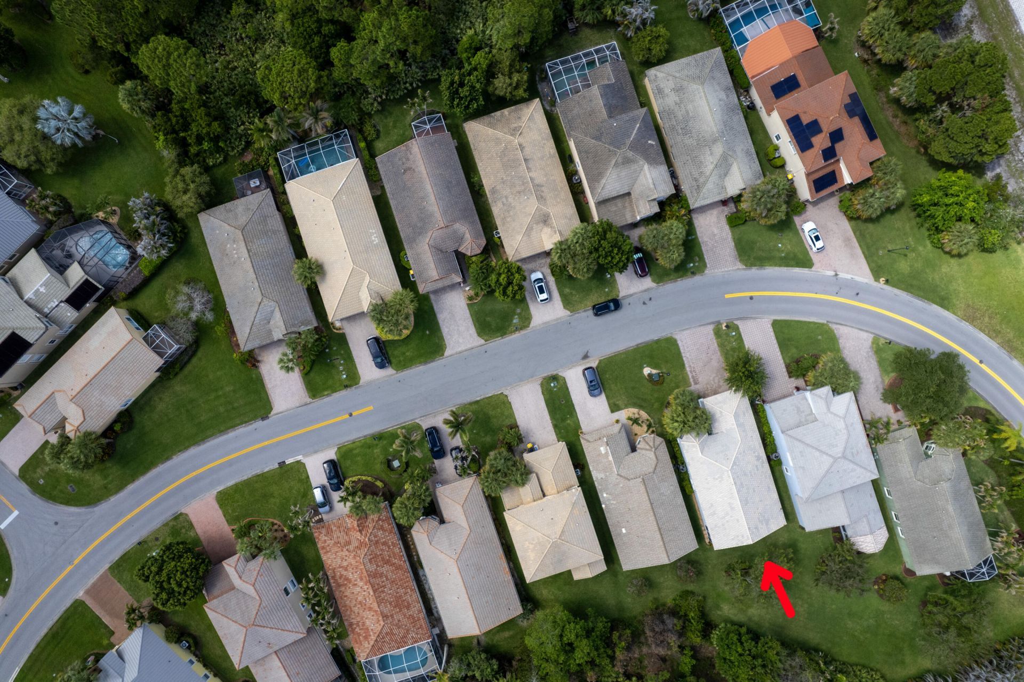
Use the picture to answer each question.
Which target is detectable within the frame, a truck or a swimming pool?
swimming pool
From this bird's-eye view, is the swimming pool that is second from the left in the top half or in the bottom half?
top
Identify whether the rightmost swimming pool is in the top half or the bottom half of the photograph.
top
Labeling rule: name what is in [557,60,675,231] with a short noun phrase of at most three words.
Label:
house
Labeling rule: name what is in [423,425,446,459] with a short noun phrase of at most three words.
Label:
car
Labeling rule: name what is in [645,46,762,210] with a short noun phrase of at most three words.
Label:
house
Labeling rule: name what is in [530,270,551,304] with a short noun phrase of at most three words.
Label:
car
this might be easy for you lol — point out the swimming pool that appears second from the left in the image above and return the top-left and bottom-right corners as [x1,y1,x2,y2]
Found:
[288,147,353,180]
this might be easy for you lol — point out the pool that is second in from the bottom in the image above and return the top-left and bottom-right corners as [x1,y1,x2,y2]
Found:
[74,228,132,272]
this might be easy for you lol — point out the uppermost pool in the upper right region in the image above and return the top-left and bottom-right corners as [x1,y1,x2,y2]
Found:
[727,0,820,49]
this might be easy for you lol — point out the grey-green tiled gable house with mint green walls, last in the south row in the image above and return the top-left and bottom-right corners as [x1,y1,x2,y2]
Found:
[867,426,993,575]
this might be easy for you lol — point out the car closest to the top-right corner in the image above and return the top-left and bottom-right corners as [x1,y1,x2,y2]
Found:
[799,220,825,253]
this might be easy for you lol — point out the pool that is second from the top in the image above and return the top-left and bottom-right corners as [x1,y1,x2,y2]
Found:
[551,55,615,96]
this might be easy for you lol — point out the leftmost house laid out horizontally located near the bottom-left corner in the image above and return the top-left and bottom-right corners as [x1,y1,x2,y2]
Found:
[84,620,238,682]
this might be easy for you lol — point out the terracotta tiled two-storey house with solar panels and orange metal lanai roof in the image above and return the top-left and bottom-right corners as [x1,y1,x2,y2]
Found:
[741,20,887,201]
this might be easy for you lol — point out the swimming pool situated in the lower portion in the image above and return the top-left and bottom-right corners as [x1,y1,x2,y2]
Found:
[376,646,430,676]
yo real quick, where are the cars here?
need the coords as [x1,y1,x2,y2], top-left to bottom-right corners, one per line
[423,425,446,459]
[530,270,551,304]
[365,335,392,368]
[799,220,825,253]
[581,365,602,398]
[311,483,333,514]
[321,458,345,492]
[589,298,623,317]
[629,246,651,280]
